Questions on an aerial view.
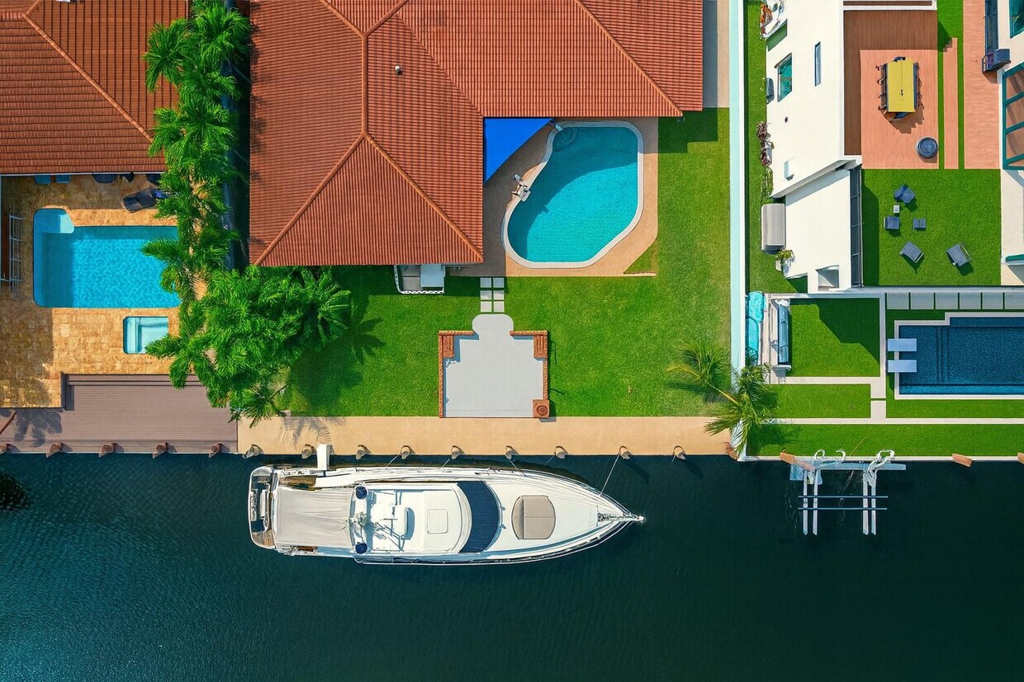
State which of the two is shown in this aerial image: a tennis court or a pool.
pool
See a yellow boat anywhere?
No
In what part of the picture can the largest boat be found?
bottom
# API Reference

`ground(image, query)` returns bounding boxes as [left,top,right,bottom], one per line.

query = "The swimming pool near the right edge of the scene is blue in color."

[894,312,1024,400]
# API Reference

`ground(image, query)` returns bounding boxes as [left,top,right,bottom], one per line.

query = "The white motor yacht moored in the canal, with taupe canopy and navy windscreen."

[248,459,644,568]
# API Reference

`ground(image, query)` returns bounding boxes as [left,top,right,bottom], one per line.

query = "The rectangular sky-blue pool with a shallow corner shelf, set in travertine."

[34,208,180,308]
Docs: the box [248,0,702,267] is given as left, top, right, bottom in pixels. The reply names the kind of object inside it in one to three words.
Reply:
house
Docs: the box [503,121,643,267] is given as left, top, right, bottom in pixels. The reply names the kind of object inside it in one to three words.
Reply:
swimming pool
